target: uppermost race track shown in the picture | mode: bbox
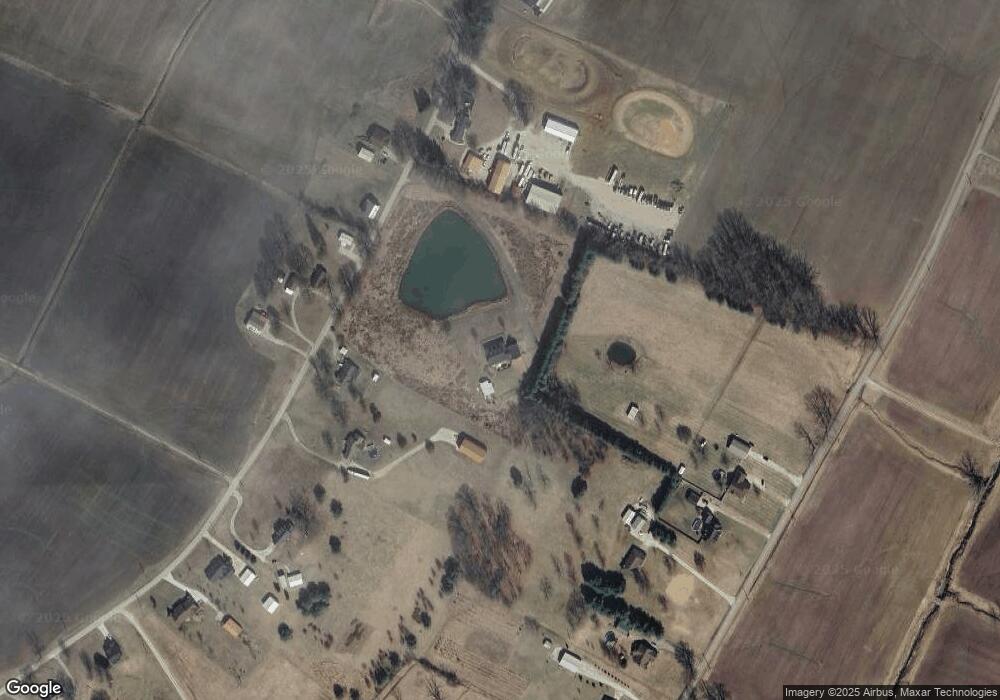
[497,24,598,109]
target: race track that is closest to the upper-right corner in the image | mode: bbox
[614,89,695,161]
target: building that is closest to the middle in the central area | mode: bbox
[481,338,520,366]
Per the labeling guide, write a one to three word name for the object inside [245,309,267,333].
house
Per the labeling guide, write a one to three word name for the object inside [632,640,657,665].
house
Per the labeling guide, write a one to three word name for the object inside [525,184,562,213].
barn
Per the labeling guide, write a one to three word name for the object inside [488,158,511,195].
barn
